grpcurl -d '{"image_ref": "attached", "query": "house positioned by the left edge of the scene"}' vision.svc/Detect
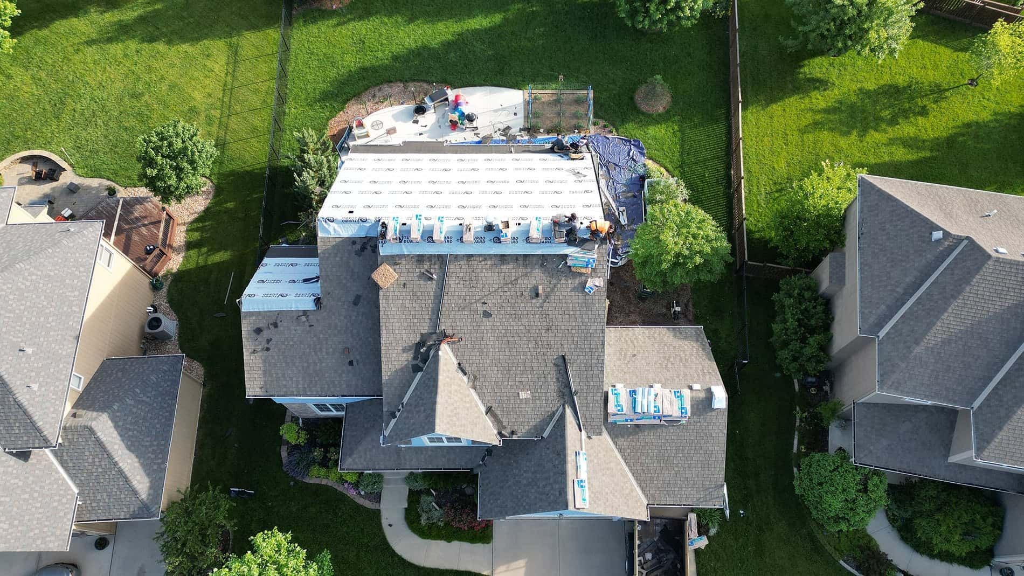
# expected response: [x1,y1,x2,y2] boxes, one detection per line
[0,186,207,552]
